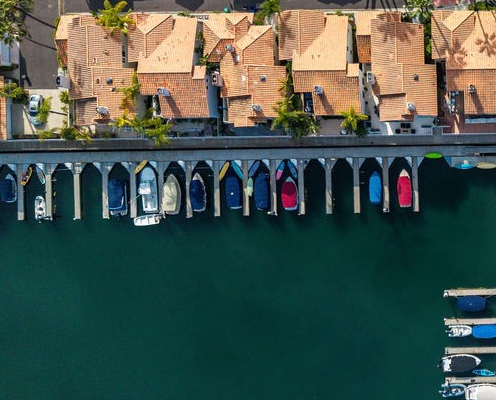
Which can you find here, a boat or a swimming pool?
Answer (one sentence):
It is a boat that can be seen here.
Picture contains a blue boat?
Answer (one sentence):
Yes, looking at the shot, I can spot a blue boat.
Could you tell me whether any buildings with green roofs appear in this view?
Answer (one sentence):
No, there isn't any building with a green roof down there.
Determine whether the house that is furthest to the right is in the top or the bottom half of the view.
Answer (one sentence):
The top half of the photo is where the house that is furthest to the right is.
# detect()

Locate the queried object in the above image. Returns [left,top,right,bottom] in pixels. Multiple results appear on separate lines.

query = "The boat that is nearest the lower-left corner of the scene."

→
[34,198,46,223]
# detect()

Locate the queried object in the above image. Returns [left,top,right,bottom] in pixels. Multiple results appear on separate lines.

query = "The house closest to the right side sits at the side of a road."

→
[431,10,496,126]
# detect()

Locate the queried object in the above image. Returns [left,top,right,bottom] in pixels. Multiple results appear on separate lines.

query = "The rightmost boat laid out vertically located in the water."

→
[396,169,411,208]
